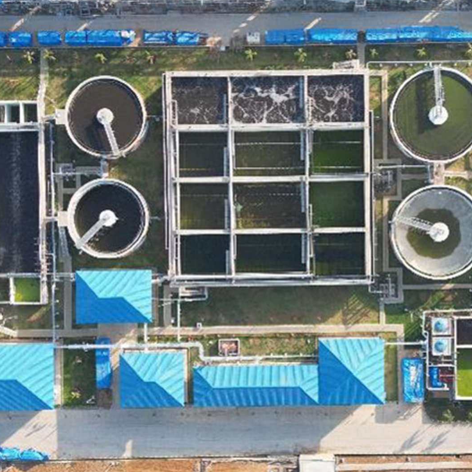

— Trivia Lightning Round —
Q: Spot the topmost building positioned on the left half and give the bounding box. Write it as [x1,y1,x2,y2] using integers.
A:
[75,270,152,324]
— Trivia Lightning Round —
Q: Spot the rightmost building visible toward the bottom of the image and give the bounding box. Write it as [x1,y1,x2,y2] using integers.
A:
[319,337,385,405]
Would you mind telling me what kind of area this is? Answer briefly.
industrial area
